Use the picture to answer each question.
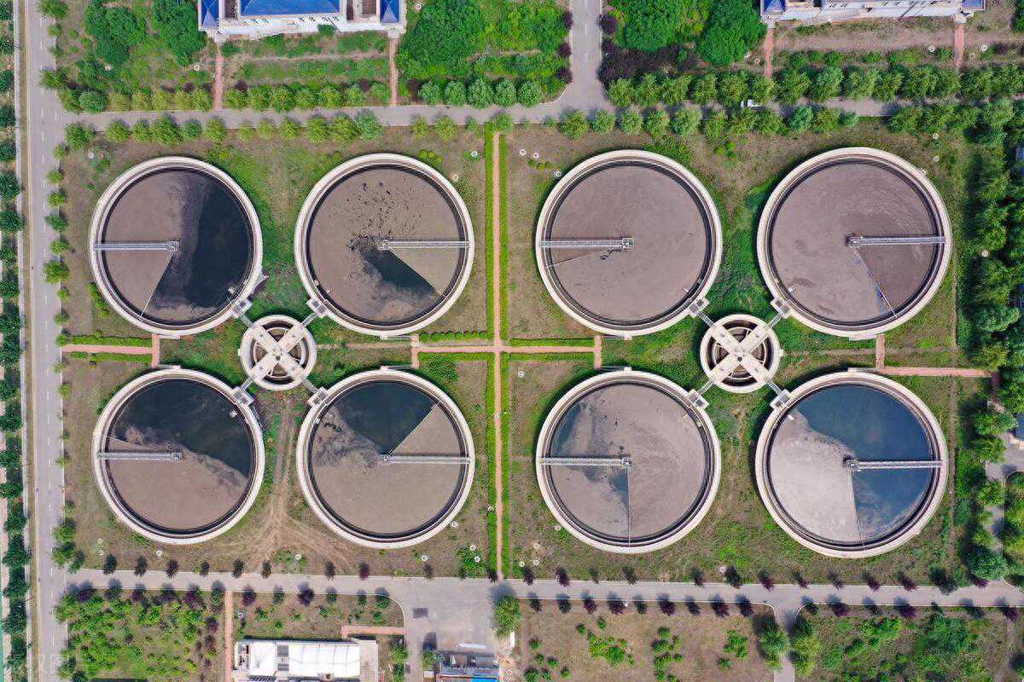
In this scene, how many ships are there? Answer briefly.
0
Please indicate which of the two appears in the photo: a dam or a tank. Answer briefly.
tank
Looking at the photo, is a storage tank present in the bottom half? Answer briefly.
Yes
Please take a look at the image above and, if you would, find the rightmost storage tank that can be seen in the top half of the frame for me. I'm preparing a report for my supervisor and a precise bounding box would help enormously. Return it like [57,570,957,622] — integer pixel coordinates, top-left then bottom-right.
[753,148,952,343]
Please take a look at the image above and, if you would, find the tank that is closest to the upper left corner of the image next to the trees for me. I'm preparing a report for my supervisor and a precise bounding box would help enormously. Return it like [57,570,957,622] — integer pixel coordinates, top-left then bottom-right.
[88,156,268,341]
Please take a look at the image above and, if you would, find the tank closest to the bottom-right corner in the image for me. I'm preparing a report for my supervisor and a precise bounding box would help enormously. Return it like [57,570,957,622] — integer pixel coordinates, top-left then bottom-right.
[751,365,947,558]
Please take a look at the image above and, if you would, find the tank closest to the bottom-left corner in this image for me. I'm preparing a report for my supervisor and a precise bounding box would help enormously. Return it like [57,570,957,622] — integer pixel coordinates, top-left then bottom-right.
[92,362,270,544]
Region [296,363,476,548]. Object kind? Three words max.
storage tank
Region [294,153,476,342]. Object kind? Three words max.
storage tank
